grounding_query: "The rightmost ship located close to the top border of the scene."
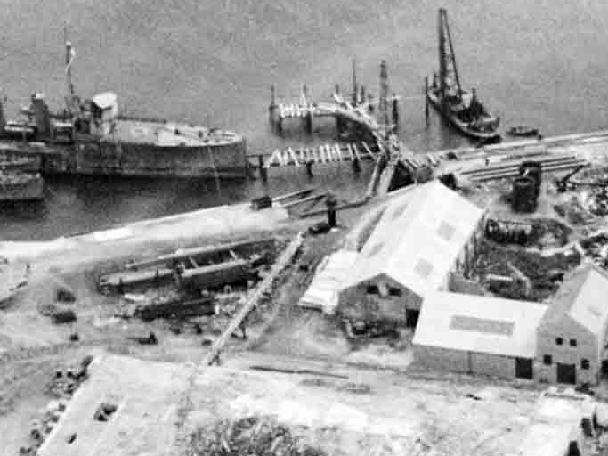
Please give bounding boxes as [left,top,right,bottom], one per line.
[421,6,503,146]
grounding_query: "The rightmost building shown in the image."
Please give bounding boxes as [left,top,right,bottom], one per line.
[533,262,608,376]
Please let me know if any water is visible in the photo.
Yes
